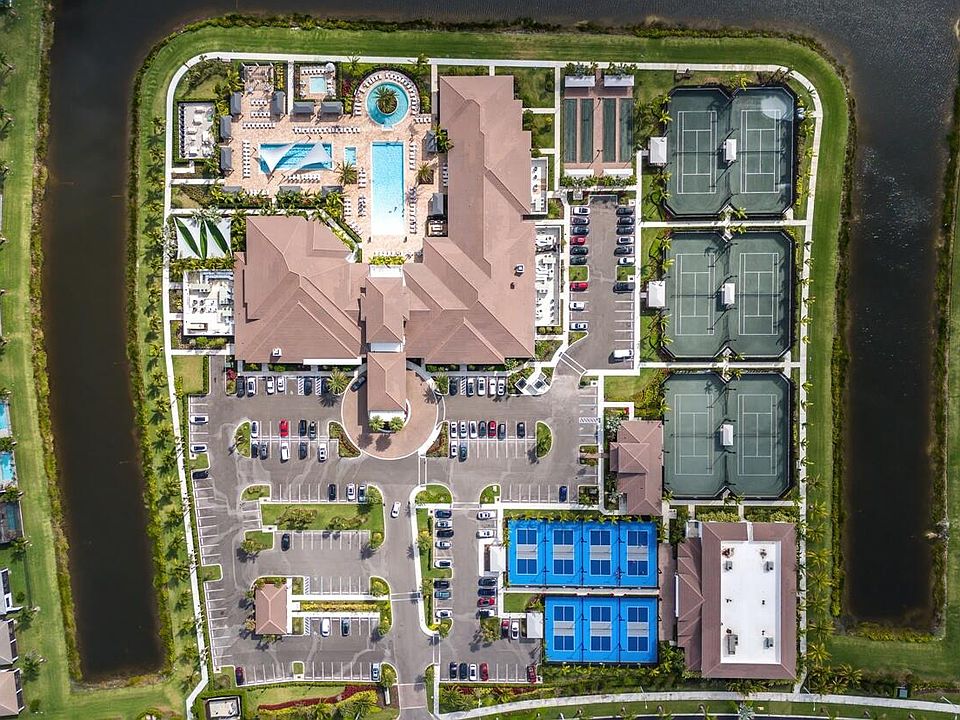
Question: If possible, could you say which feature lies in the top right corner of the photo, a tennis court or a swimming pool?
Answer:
tennis court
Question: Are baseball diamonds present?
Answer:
No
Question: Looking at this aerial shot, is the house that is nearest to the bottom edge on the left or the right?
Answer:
left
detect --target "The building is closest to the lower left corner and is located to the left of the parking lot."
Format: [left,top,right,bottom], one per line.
[0,665,32,716]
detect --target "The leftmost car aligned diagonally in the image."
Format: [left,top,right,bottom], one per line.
[350,376,367,391]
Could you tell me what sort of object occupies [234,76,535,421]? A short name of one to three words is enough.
building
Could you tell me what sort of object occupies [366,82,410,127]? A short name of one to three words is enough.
swimming pool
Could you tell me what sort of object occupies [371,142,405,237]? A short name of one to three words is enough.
swimming pool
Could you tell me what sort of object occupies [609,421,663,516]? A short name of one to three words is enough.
building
